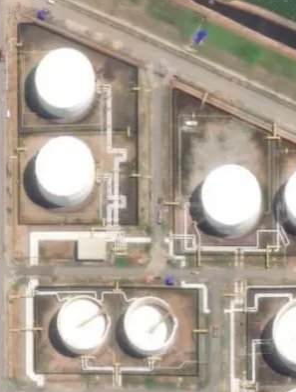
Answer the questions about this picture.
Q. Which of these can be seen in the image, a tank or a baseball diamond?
tank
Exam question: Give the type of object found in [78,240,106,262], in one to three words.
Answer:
building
